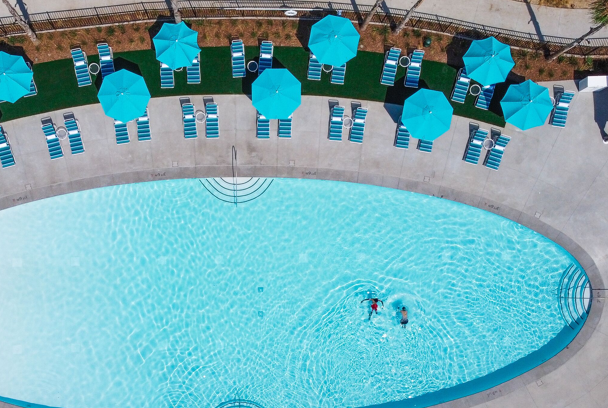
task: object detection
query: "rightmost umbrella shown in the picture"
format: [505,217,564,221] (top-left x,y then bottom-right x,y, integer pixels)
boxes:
[501,79,553,130]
